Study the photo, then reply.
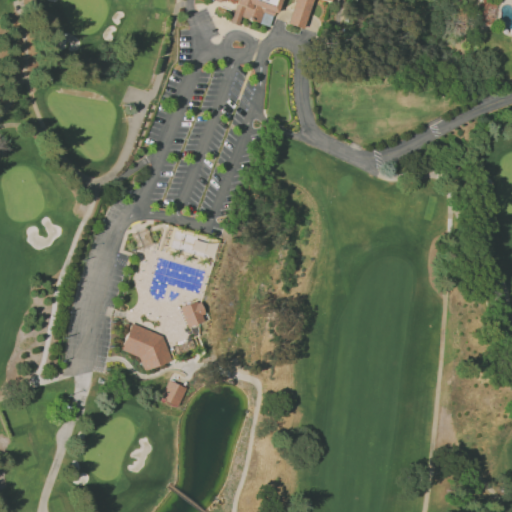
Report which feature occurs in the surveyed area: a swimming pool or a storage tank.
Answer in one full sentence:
Looking from above, you can make out a swimming pool.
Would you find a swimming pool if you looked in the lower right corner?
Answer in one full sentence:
No, in the lower right corner there is no swimming pool.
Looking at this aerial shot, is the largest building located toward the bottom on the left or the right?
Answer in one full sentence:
You can find the largest building located toward the bottom on the left side of the picture.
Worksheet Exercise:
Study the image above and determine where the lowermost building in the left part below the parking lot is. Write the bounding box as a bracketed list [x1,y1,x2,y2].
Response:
[164,382,188,407]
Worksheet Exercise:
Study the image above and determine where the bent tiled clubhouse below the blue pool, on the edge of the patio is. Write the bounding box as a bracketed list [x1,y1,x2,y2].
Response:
[124,324,173,371]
